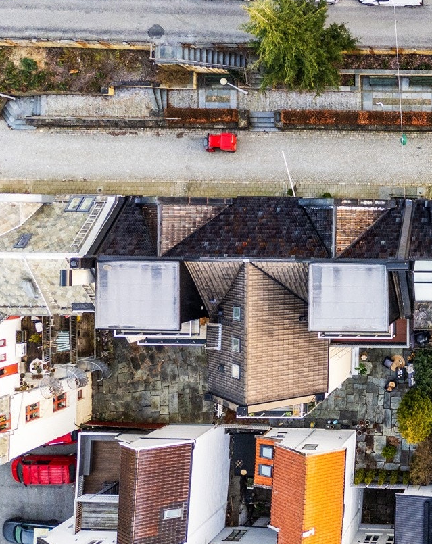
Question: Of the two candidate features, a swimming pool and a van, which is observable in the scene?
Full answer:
Visible in the photo is a van.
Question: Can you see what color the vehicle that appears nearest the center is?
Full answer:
The vehicle that appears nearest the center looks red in the image.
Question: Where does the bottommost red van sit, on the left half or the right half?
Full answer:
You can find the bottommost red van on the left side of the picture.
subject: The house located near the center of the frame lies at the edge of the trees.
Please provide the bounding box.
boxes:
[84,194,416,418]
